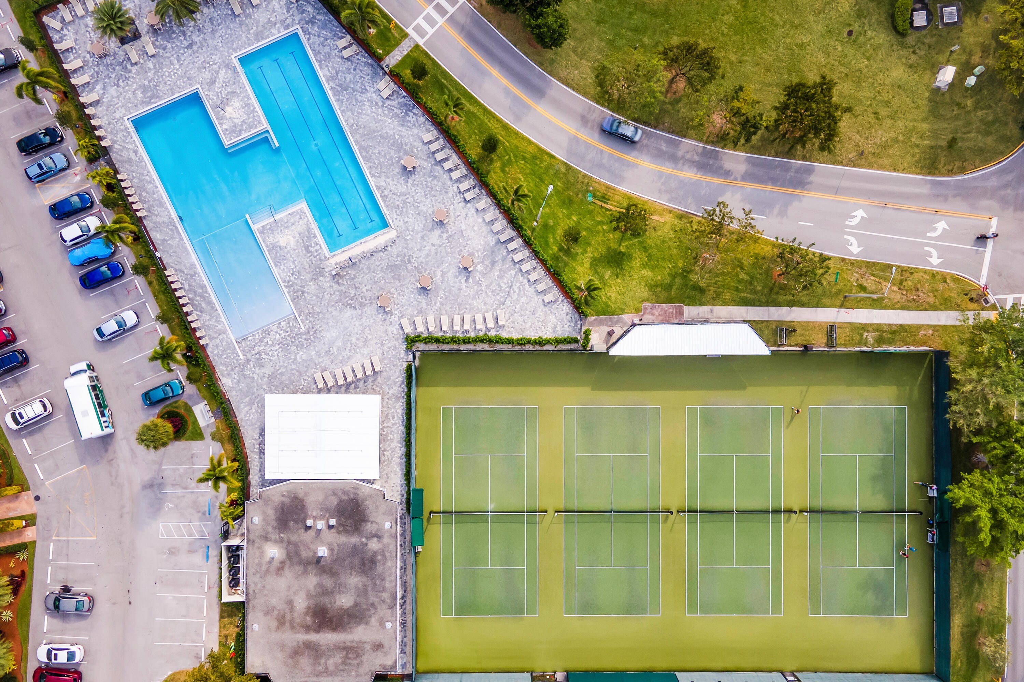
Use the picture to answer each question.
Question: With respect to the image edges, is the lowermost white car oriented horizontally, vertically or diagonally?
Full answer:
From this overhead view, the lowermost white car appears to run horizontally.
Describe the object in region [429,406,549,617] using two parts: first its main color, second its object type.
green tennis court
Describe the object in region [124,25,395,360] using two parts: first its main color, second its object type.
blue swimming pool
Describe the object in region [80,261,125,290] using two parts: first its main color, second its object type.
blue car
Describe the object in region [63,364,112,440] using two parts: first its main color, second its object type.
white vehicle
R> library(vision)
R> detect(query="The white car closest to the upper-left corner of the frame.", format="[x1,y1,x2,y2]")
[57,215,103,246]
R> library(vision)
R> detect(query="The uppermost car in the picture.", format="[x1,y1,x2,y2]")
[0,52,25,77]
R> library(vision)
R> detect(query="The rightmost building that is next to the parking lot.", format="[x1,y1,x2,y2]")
[245,478,401,682]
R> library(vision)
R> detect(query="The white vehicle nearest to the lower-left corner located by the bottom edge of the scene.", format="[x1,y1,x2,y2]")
[40,642,83,664]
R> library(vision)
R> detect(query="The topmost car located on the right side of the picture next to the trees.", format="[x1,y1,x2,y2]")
[600,116,643,145]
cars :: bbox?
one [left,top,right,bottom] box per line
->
[57,215,103,246]
[24,154,70,184]
[40,642,83,664]
[0,52,25,77]
[17,126,63,155]
[0,324,18,347]
[49,191,95,220]
[80,261,125,290]
[6,398,53,428]
[70,239,116,267]
[94,312,140,341]
[141,379,186,407]
[49,591,92,613]
[0,348,30,376]
[600,116,643,145]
